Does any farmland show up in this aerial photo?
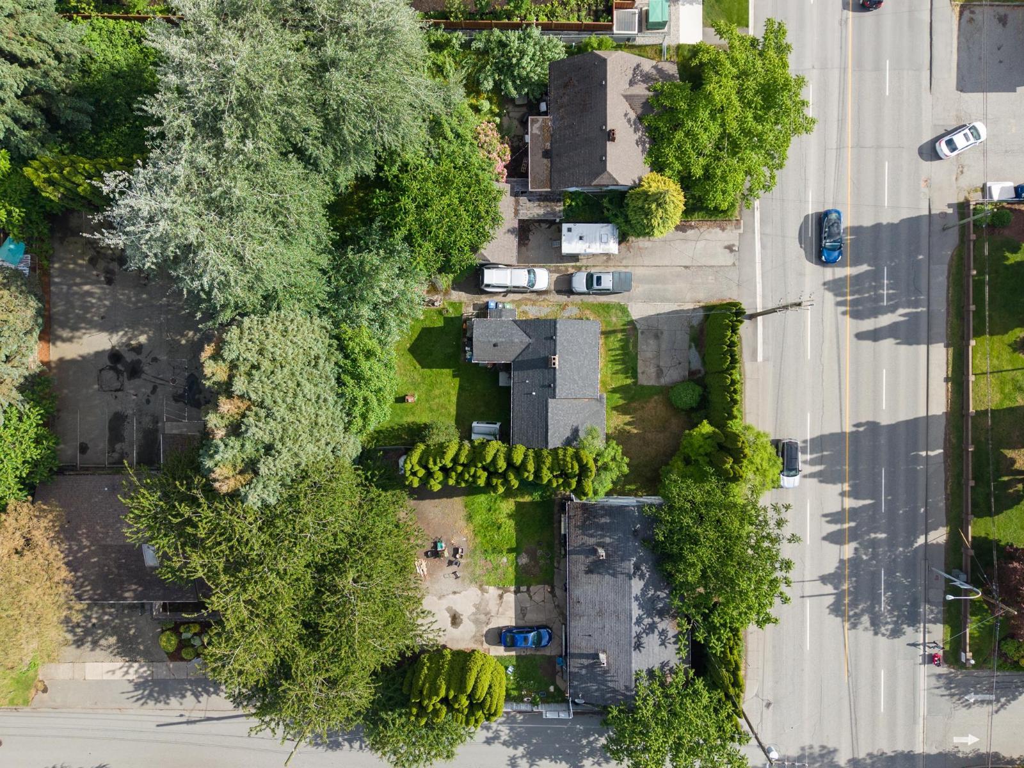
No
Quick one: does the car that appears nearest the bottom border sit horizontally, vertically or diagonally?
horizontally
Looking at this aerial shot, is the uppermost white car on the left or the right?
right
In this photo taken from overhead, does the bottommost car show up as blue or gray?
blue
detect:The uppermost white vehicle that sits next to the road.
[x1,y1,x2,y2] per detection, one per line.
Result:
[929,122,988,162]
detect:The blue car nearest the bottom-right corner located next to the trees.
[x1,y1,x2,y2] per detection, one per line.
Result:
[500,624,551,650]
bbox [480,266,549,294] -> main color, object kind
white truck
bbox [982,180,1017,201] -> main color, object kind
white trailer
